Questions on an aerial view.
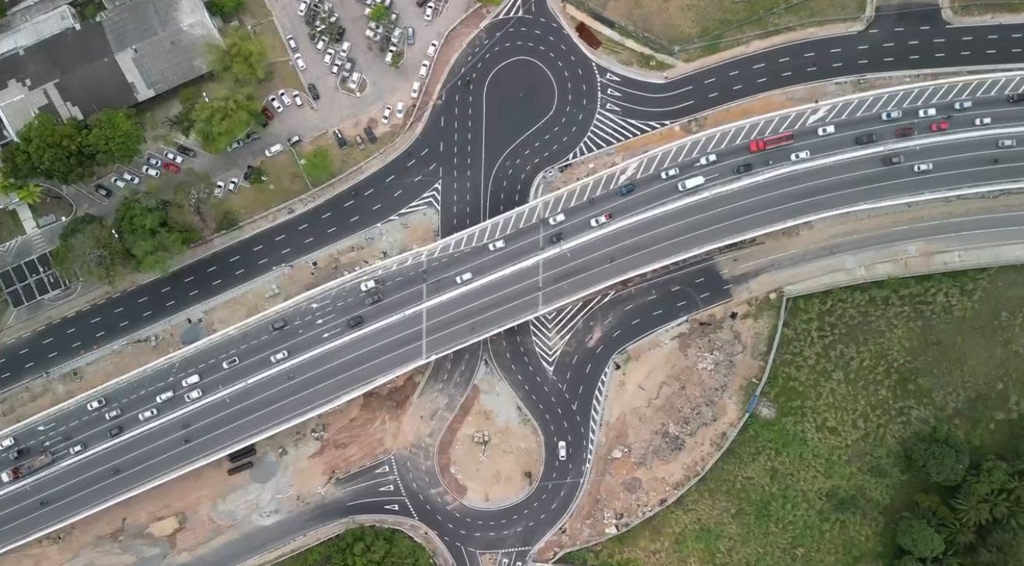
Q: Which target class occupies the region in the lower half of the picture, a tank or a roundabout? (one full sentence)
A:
The one visible in the lower half of the picture is a roundabout.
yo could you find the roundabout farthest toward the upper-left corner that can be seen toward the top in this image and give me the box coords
[411,0,601,241]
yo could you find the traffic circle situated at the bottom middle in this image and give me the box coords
[392,257,732,566]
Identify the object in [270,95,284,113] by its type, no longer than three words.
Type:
car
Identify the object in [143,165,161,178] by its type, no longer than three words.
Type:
vehicle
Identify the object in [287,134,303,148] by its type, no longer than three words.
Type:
car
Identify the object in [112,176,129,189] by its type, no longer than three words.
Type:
vehicle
